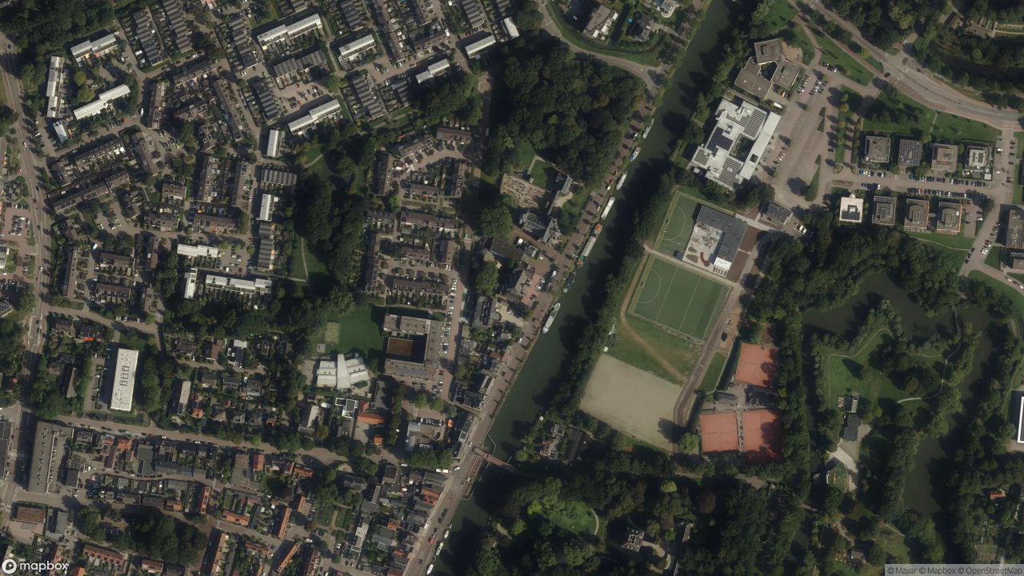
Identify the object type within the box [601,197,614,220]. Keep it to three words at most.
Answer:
boat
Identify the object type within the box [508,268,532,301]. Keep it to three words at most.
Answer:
house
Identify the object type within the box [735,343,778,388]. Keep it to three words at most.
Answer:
tennis court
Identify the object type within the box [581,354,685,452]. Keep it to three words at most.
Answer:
sports field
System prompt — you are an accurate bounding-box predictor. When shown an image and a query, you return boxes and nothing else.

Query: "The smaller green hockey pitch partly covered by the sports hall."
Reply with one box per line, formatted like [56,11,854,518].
[654,190,736,268]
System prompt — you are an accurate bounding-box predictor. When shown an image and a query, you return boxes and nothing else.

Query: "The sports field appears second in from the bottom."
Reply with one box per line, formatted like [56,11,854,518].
[628,254,730,345]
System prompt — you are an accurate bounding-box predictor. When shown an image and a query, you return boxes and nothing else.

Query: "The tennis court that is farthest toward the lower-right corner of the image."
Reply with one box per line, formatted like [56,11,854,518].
[741,409,782,462]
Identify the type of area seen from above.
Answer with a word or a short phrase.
residential area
